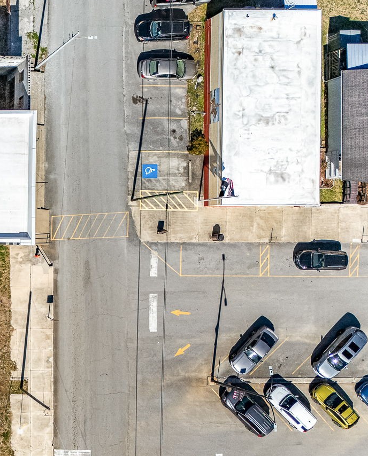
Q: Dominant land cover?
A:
paved ground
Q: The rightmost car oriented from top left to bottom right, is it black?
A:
No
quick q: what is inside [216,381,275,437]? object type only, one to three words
car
